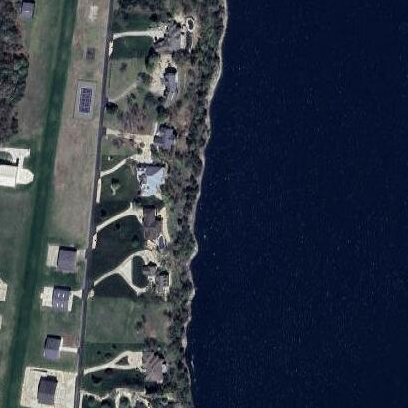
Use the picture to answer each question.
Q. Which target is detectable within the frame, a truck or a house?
house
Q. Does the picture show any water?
Yes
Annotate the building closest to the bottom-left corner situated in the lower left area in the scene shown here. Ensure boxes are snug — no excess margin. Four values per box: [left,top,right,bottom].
[37,379,57,404]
